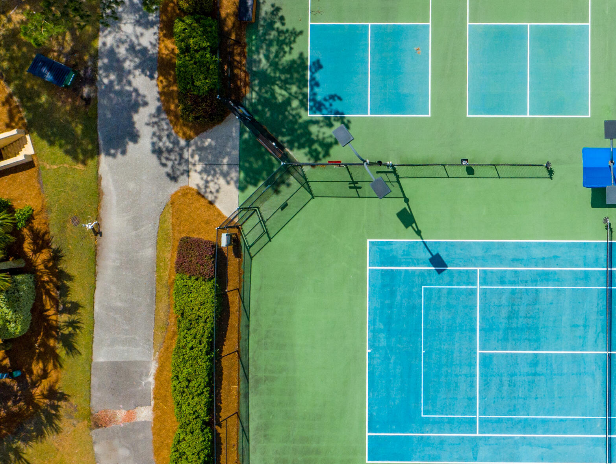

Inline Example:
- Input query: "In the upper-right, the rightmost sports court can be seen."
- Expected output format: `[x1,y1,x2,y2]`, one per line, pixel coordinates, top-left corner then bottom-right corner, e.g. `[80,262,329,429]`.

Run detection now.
[529,25,588,115]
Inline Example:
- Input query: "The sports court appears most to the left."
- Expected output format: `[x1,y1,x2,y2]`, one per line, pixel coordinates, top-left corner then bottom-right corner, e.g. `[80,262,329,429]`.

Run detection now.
[309,25,369,114]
